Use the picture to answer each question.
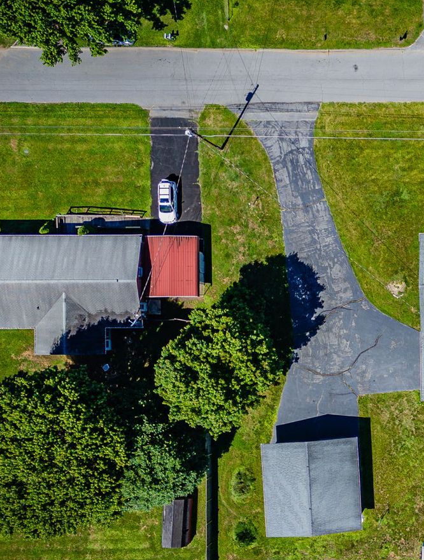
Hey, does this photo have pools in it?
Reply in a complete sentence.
No, the frame has no pool in it.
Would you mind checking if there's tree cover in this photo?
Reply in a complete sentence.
Yes, there is tree cover in the image.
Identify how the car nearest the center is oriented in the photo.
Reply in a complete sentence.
The car nearest the center is laid out up and down.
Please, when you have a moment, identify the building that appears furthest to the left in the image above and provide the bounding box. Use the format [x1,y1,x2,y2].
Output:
[0,235,150,355]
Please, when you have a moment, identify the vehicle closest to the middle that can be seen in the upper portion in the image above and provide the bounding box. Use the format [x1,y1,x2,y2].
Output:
[156,178,180,224]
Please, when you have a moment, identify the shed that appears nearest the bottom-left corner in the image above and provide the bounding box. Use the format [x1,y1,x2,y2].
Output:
[165,494,193,547]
